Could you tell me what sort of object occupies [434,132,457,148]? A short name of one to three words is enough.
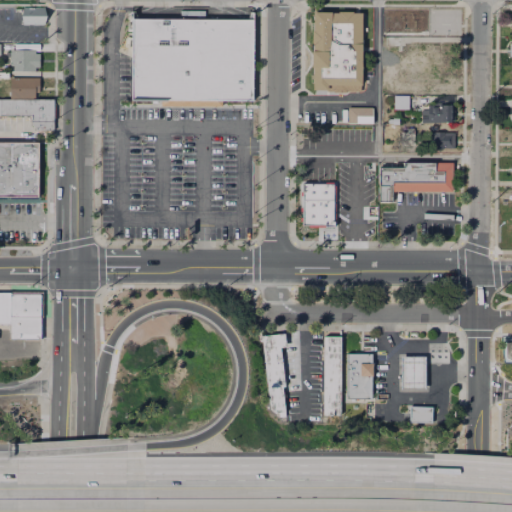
house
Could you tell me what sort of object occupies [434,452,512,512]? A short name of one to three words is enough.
overpass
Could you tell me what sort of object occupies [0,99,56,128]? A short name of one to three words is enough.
building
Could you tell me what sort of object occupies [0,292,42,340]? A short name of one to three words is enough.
building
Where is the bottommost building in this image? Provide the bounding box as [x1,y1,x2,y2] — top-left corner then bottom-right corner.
[410,405,434,424]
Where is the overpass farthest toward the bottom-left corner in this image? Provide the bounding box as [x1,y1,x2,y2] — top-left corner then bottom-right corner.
[18,438,145,512]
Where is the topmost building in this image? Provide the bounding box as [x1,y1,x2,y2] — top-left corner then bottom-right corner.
[22,8,48,26]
